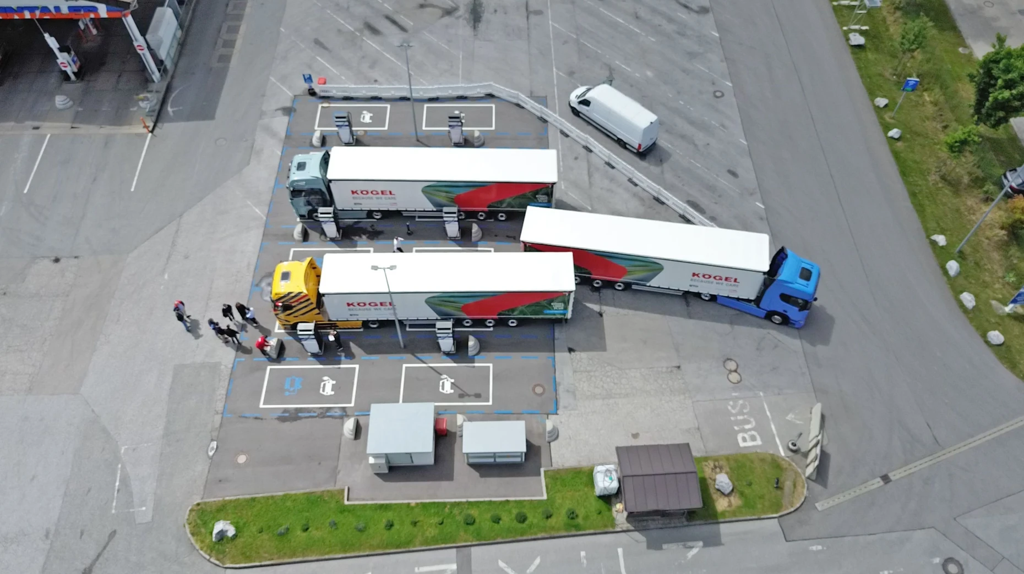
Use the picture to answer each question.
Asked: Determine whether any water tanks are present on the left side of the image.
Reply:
No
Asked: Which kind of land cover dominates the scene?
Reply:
paved ground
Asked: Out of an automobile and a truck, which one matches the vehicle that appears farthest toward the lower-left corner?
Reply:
truck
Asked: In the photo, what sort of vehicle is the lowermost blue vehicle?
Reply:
truck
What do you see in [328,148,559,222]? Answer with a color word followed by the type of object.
white trailer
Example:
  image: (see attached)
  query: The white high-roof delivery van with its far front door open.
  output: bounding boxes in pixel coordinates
[567,76,663,155]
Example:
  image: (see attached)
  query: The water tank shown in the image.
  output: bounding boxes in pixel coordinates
[593,464,617,495]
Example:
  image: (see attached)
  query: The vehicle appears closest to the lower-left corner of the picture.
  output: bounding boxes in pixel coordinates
[273,258,388,330]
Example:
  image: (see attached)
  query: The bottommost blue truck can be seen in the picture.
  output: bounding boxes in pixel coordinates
[702,252,820,328]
